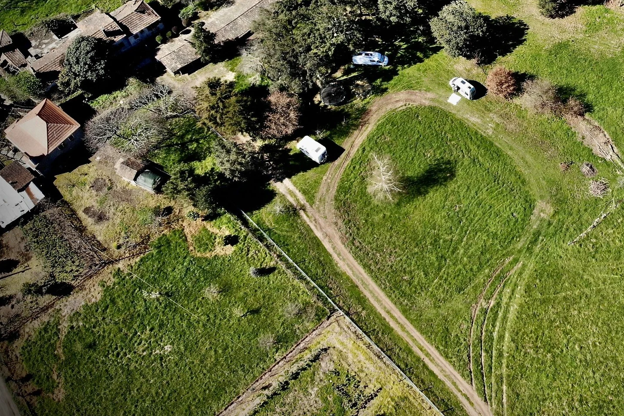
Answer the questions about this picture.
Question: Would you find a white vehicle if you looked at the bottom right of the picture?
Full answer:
No, no white vehicle can be made out at the bottom right of the picture.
